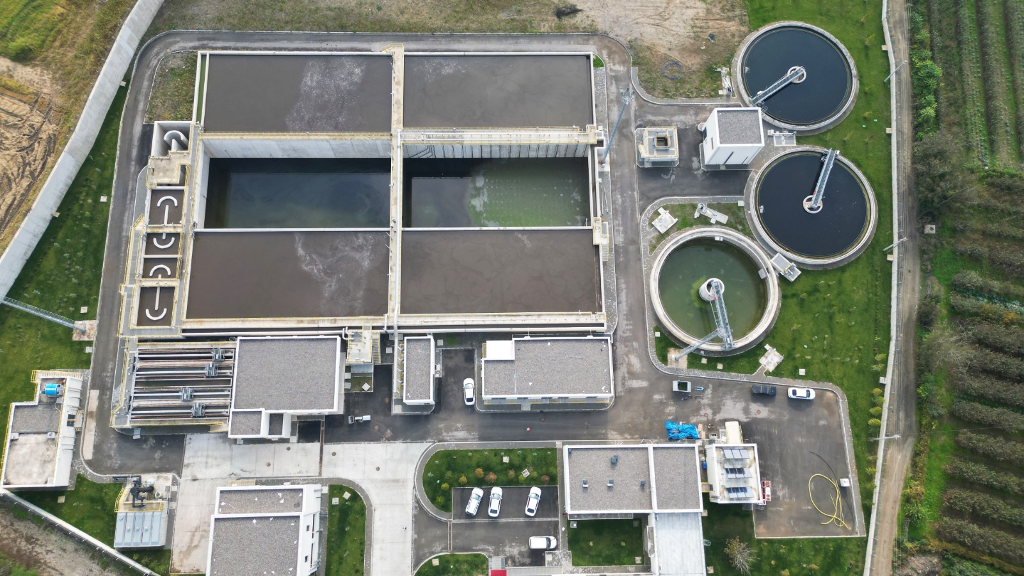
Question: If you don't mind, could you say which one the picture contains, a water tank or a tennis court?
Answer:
water tank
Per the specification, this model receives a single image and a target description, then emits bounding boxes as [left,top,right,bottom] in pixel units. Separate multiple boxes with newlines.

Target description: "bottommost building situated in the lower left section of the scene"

[205,480,321,576]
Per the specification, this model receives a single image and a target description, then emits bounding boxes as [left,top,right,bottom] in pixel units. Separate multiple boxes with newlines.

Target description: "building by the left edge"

[0,369,87,487]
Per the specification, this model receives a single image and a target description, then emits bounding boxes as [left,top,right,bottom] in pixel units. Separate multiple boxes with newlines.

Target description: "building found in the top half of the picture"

[703,107,764,168]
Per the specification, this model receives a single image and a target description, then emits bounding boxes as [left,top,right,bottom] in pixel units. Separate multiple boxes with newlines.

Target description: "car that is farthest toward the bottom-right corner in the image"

[786,388,815,401]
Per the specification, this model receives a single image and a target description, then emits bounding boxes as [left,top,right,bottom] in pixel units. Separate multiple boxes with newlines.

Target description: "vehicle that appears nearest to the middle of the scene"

[462,378,476,406]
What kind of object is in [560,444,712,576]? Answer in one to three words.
building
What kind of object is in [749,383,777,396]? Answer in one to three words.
vehicle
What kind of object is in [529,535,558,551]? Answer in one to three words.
car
